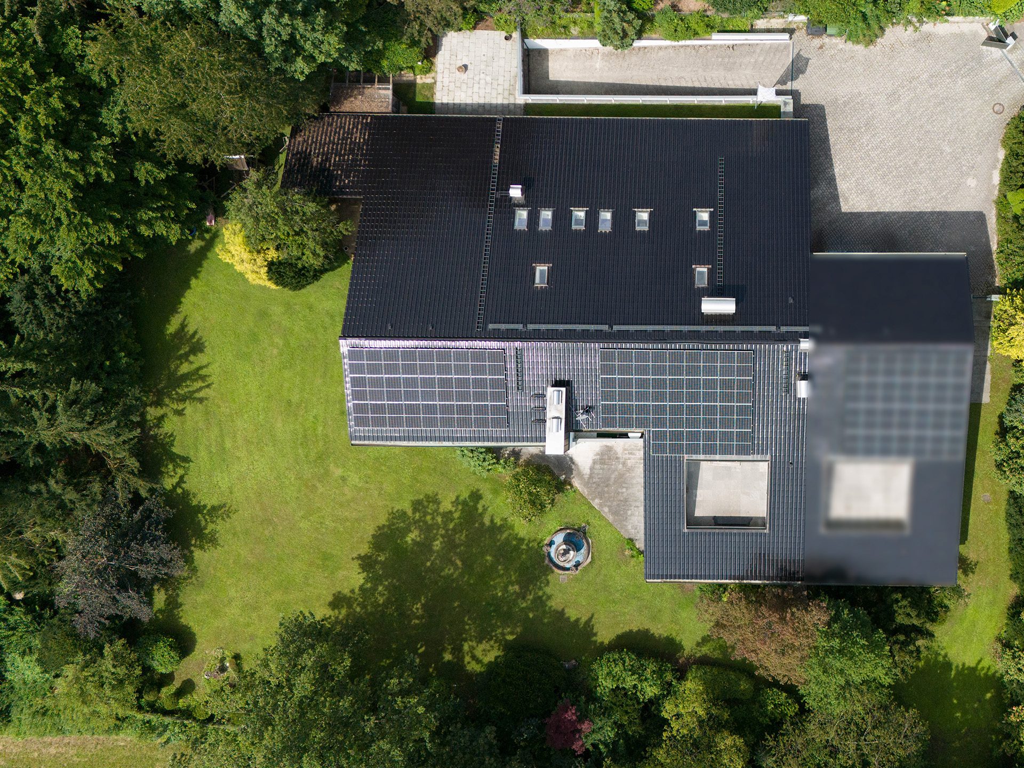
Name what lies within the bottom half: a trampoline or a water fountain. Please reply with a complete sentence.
What appears within the bottom half is a water fountain.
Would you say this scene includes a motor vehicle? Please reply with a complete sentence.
No, there is no motor vehicle in the image.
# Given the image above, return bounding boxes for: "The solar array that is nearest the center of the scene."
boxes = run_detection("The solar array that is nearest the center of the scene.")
[348,349,509,430]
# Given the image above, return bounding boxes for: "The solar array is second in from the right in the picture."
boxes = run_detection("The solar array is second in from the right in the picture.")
[600,351,754,456]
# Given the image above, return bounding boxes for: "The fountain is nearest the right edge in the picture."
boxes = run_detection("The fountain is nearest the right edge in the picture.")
[543,524,591,573]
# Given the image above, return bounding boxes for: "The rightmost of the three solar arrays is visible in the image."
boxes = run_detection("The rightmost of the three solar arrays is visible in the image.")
[840,353,968,459]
